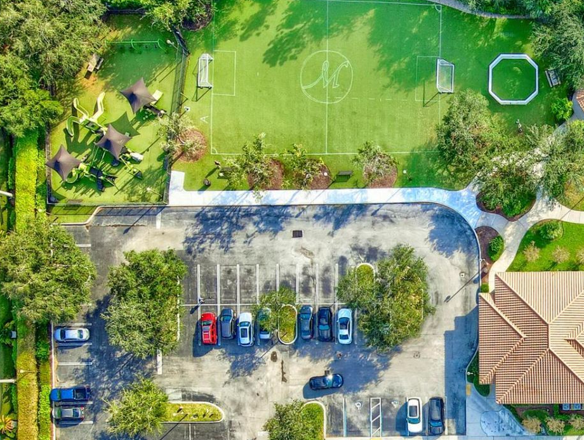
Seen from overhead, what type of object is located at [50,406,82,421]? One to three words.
car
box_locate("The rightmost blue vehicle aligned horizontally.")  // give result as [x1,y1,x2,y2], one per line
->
[307,372,343,390]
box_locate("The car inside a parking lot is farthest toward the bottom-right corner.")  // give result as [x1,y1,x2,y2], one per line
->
[426,397,442,434]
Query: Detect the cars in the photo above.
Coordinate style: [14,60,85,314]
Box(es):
[52,325,87,341]
[215,307,233,340]
[334,308,351,342]
[253,306,271,340]
[307,372,343,390]
[314,306,331,340]
[196,313,214,344]
[426,397,442,434]
[404,397,421,434]
[50,406,82,421]
[233,312,252,346]
[296,304,313,338]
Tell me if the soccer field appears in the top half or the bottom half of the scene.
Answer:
top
